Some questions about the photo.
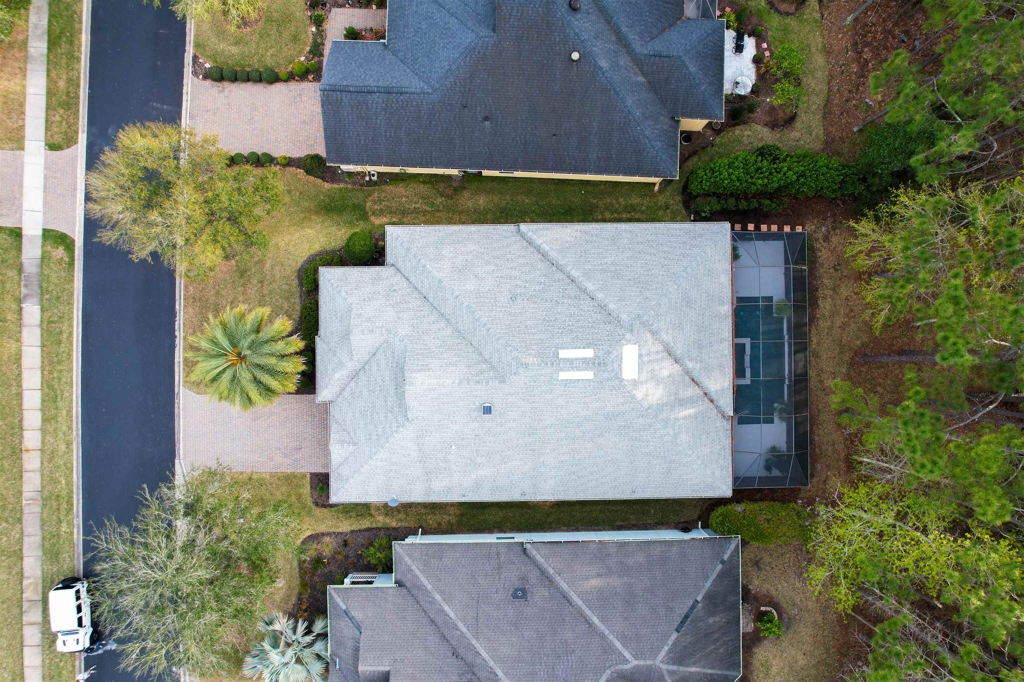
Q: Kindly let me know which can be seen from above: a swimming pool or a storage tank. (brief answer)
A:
swimming pool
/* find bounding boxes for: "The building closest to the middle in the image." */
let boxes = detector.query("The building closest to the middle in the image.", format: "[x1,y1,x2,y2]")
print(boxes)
[314,220,734,505]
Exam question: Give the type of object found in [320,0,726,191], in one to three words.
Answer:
house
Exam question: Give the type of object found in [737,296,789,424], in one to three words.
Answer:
swimming pool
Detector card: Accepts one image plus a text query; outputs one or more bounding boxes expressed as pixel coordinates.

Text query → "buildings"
[326,521,743,682]
[320,0,726,191]
[314,220,734,505]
